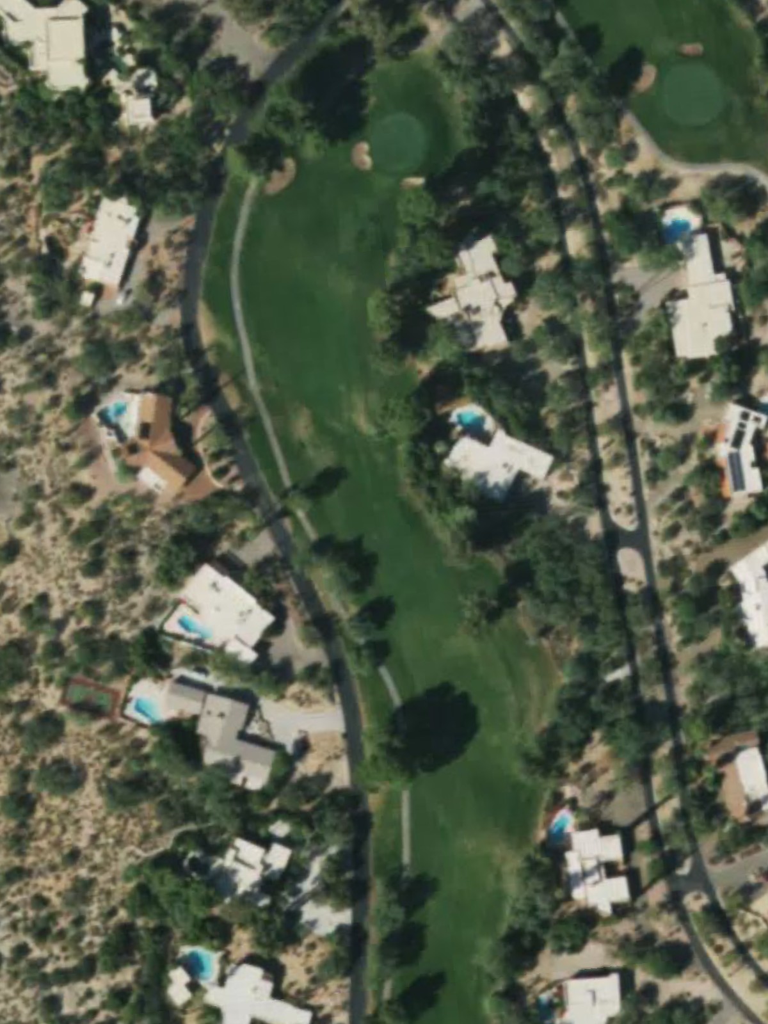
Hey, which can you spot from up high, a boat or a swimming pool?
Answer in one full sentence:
The image shows a swimming pool.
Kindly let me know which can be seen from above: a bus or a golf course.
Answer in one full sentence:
The one in the frame is a golf course.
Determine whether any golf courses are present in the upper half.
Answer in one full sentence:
Yes, looking in the upper half, one can make out a golf course.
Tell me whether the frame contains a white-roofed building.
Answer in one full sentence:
Yes, you can see a white-roofed building in this photo.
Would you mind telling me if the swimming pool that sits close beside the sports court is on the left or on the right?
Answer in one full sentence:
The swimming pool that sits close beside the sports court appears in the left half of the scene.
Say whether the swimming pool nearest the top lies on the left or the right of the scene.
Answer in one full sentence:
It is on the right.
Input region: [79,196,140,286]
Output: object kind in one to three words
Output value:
house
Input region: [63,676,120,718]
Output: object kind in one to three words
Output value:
sports court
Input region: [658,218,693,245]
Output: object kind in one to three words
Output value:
swimming pool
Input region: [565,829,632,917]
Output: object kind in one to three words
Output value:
house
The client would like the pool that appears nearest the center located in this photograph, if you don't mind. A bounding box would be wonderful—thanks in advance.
[456,410,487,434]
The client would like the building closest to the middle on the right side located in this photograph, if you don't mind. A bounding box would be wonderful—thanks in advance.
[446,428,554,499]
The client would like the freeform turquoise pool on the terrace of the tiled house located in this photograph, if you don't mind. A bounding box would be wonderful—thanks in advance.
[97,401,128,427]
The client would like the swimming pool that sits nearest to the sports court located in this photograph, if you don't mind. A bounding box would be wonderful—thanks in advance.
[134,695,164,724]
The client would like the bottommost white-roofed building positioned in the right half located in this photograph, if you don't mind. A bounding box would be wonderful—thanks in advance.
[563,973,621,1024]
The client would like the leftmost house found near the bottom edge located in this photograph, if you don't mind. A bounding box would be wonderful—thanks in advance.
[167,967,191,1007]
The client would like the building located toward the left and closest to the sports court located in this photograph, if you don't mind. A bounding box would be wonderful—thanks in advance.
[167,682,277,791]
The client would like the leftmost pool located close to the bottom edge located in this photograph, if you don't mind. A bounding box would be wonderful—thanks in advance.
[183,948,213,982]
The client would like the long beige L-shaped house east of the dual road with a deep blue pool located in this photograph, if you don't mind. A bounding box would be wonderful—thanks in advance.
[666,232,736,358]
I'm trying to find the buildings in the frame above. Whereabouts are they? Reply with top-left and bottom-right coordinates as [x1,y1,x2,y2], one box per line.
[184,563,275,663]
[719,748,768,820]
[215,838,292,908]
[202,965,312,1024]
[427,234,517,351]
[666,232,736,358]
[715,402,768,499]
[167,682,277,791]
[0,0,88,90]
[167,967,191,1007]
[730,540,768,647]
[125,393,195,496]
[563,973,621,1024]
[80,291,94,306]
[446,428,554,499]
[269,820,291,838]
[565,829,632,917]
[127,96,156,127]
[79,196,140,286]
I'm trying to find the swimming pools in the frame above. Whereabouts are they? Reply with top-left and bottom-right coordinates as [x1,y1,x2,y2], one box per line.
[456,410,487,434]
[658,218,693,245]
[758,401,768,415]
[183,948,213,982]
[549,812,571,845]
[134,695,164,724]
[97,401,128,427]
[177,614,213,640]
